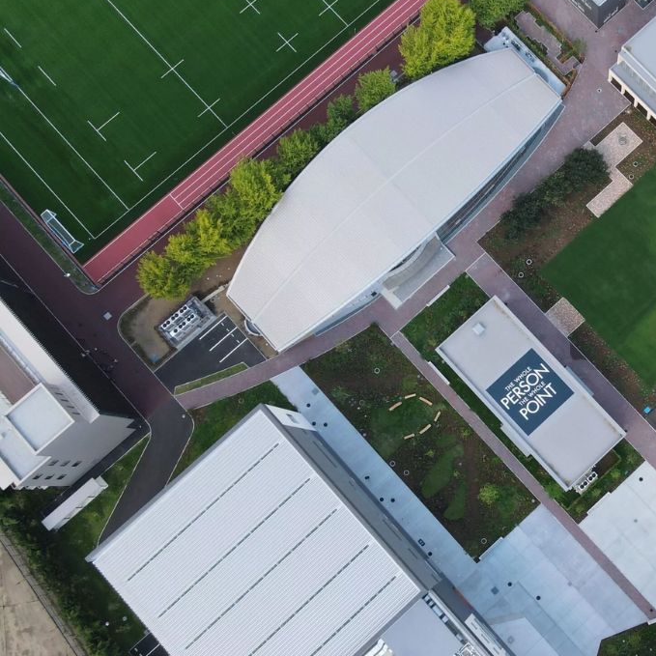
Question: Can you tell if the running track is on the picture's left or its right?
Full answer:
The running track is on the left side of the image.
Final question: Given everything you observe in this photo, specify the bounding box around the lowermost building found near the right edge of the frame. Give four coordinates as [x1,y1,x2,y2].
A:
[436,297,627,491]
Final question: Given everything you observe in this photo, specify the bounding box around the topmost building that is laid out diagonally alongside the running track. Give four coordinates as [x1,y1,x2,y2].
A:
[225,26,571,352]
